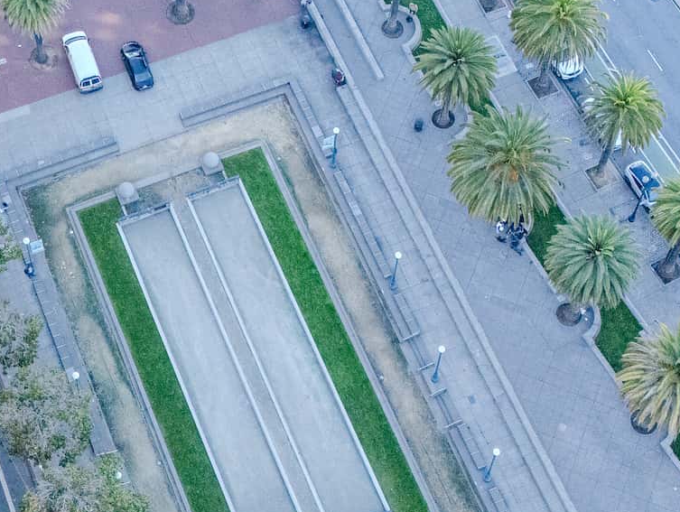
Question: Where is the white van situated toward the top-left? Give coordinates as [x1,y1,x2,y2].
[62,32,106,91]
